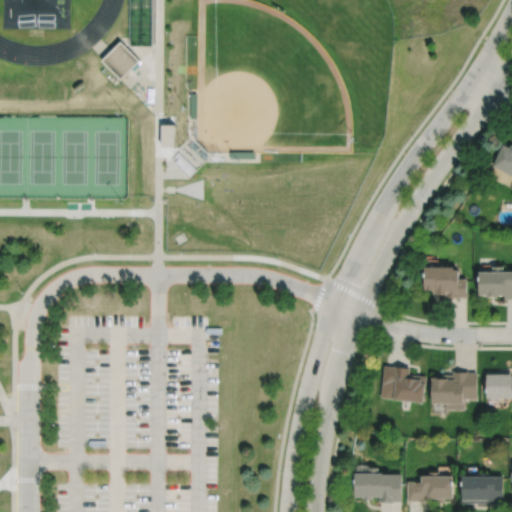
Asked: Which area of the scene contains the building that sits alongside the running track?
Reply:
top left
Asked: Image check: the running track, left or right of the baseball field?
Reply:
on the left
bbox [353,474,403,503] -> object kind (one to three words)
house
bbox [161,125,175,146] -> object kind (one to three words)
shed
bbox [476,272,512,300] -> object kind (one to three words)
house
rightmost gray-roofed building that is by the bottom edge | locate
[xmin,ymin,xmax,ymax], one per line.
[460,478,504,506]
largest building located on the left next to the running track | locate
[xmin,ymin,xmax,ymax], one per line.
[102,42,139,80]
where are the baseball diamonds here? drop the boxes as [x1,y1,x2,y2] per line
[198,0,354,153]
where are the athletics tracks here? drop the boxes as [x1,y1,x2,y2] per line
[0,0,123,66]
